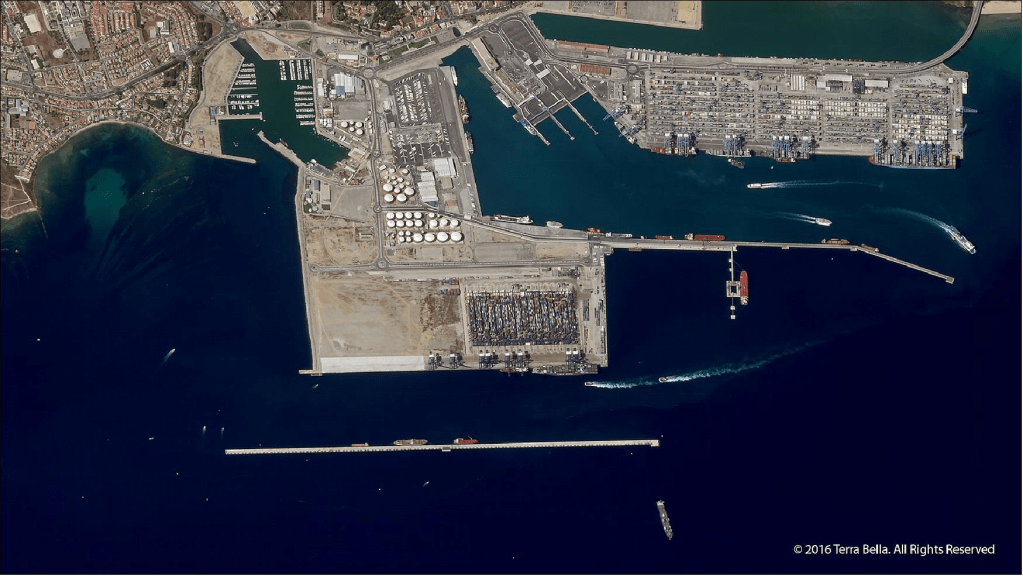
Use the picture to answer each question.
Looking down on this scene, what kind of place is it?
port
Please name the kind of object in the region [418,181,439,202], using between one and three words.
building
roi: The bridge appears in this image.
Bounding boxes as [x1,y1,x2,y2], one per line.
[880,0,982,74]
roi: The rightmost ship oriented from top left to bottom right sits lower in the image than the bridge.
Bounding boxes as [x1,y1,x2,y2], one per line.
[951,226,976,253]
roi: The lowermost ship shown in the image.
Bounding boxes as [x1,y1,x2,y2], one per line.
[657,501,671,540]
